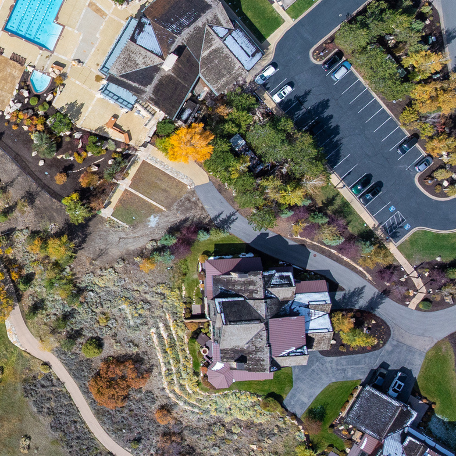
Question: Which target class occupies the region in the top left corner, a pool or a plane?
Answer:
pool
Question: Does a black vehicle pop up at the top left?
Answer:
No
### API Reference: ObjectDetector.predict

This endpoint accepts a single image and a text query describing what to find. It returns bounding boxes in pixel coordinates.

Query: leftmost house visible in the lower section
[181,257,334,389]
